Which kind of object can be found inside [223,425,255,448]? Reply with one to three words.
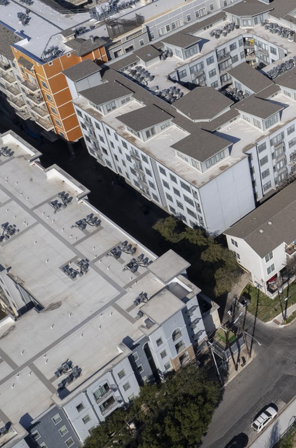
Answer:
car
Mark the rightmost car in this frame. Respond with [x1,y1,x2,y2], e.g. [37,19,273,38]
[248,400,284,439]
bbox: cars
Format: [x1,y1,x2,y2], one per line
[248,400,284,439]
[223,425,255,448]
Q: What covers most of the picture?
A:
buildings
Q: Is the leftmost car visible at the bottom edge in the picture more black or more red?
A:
black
